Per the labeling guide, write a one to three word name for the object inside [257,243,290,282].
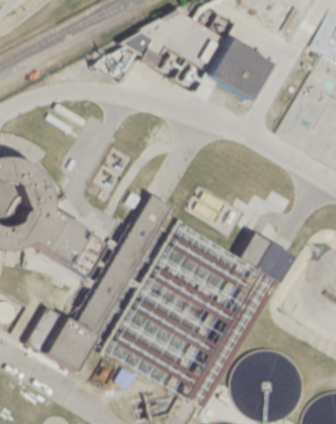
house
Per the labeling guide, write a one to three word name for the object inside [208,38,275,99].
shed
